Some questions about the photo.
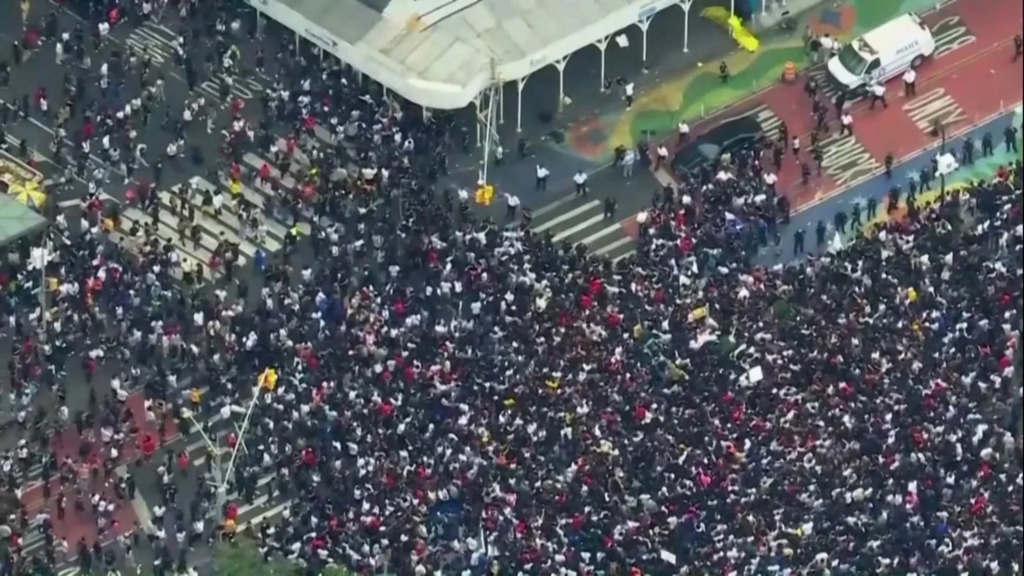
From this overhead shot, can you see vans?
Yes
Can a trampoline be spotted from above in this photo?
No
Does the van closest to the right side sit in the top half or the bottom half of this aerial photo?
top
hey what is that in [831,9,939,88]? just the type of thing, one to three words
van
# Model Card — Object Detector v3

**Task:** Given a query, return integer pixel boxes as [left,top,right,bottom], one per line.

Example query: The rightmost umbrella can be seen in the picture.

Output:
[700,7,766,52]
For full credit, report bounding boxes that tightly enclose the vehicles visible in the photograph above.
[831,9,939,88]
[669,114,769,173]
